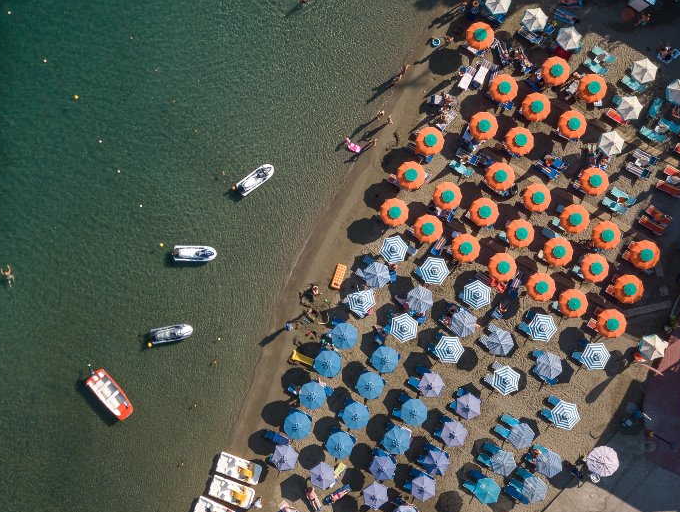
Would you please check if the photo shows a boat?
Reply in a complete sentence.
Yes, this view includes a boat.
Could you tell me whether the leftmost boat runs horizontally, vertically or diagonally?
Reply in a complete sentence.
The leftmost boat is oriented diagonally.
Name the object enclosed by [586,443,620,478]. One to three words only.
umbrella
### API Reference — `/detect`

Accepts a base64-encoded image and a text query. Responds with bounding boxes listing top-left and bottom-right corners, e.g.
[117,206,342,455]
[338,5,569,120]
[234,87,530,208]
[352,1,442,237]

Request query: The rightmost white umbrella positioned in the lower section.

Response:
[638,332,667,361]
